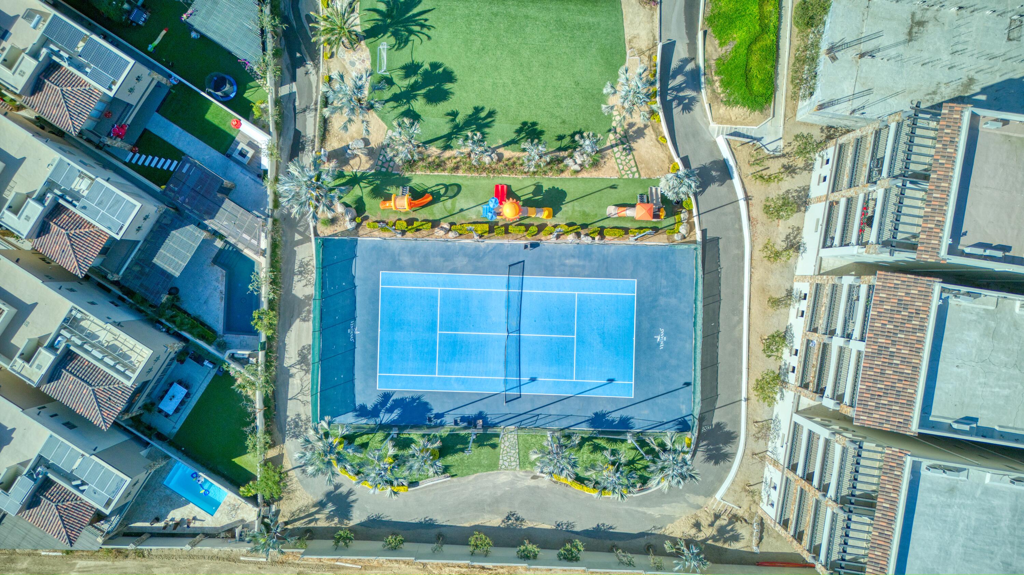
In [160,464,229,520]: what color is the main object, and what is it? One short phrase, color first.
blue swimming pool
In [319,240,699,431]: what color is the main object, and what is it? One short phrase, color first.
blue tennis court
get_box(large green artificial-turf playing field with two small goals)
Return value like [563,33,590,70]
[359,0,626,152]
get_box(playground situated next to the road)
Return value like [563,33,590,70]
[323,170,683,229]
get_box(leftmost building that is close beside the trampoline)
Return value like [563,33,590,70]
[0,0,188,159]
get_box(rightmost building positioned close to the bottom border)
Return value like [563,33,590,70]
[761,408,1024,575]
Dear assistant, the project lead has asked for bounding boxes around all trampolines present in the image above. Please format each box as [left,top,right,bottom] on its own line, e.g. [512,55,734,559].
[200,67,237,102]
